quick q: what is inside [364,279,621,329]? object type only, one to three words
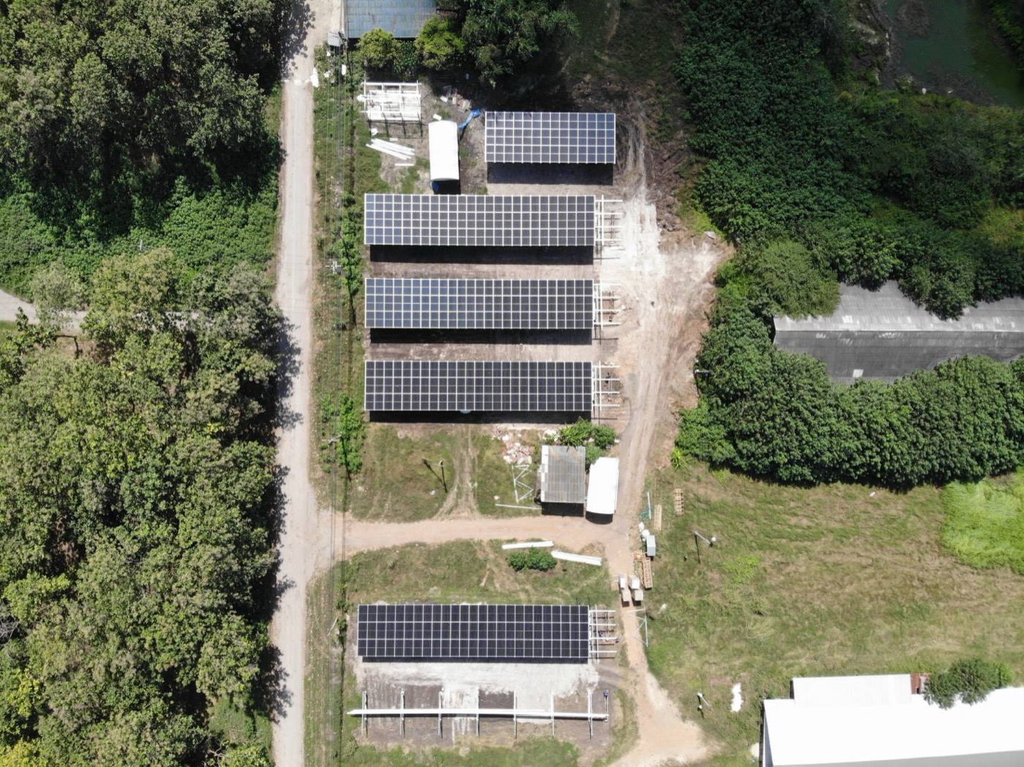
solar array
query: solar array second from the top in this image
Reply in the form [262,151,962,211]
[363,194,623,246]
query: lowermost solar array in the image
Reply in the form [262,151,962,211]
[357,604,618,657]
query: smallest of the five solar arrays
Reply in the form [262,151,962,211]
[485,112,615,164]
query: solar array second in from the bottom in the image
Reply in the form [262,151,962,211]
[364,361,620,411]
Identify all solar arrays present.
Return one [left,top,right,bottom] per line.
[357,604,618,657]
[364,361,620,411]
[364,279,621,329]
[485,112,615,164]
[363,194,623,246]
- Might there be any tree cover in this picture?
Yes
